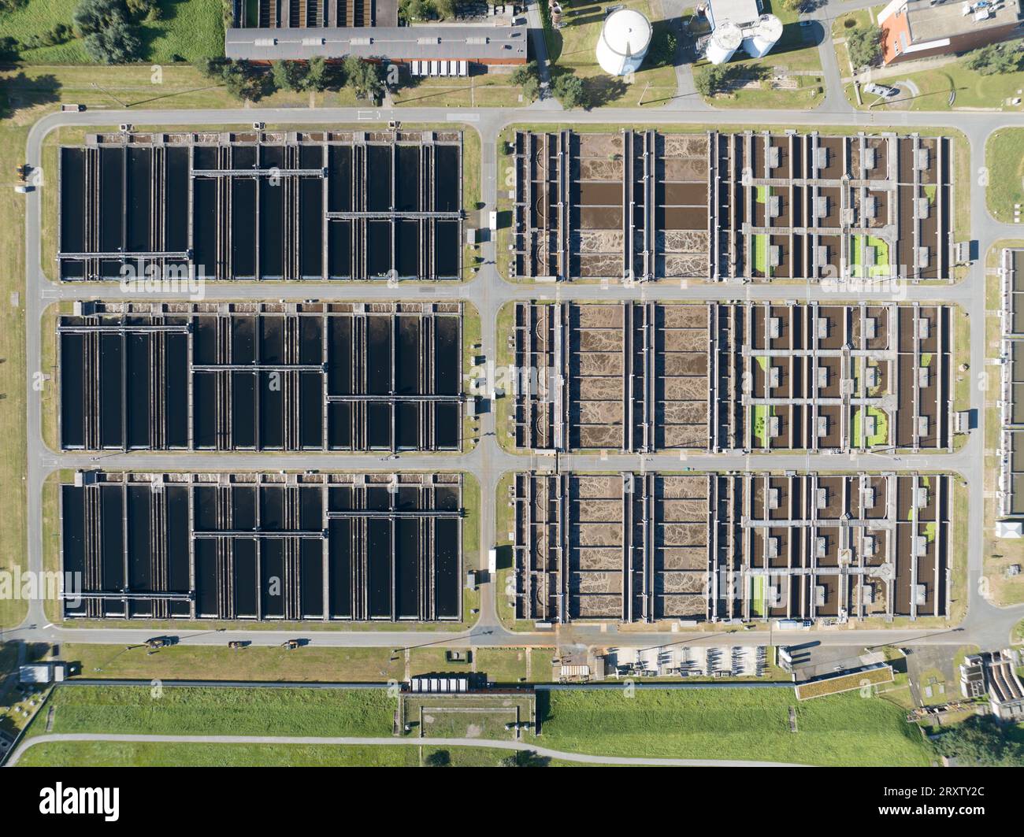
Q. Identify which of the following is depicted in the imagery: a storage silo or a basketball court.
storage silo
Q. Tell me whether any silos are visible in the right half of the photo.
Yes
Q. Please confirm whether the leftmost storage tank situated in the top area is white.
Yes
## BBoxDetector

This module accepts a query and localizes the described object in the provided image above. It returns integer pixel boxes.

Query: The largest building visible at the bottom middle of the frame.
[398,689,536,739]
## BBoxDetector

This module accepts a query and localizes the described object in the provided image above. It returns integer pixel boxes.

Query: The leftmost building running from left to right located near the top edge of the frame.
[224,28,527,64]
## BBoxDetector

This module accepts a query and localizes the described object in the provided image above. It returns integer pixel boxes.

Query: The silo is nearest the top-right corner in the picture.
[745,12,785,57]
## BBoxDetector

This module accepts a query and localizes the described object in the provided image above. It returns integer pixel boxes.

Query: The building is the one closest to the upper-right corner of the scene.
[877,0,1021,65]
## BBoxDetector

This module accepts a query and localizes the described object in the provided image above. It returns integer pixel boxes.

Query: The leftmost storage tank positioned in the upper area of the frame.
[598,6,655,77]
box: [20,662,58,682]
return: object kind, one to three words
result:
shed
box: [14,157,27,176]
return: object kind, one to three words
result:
vehicle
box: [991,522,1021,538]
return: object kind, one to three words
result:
building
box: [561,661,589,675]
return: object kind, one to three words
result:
building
